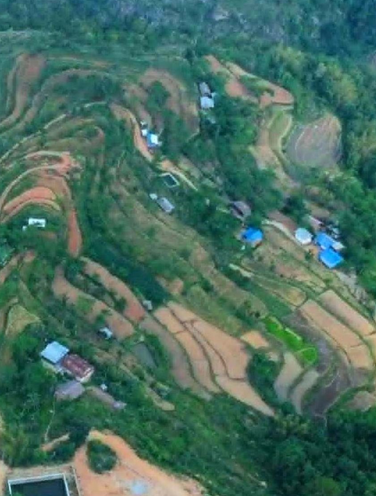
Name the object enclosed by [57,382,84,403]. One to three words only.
barn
